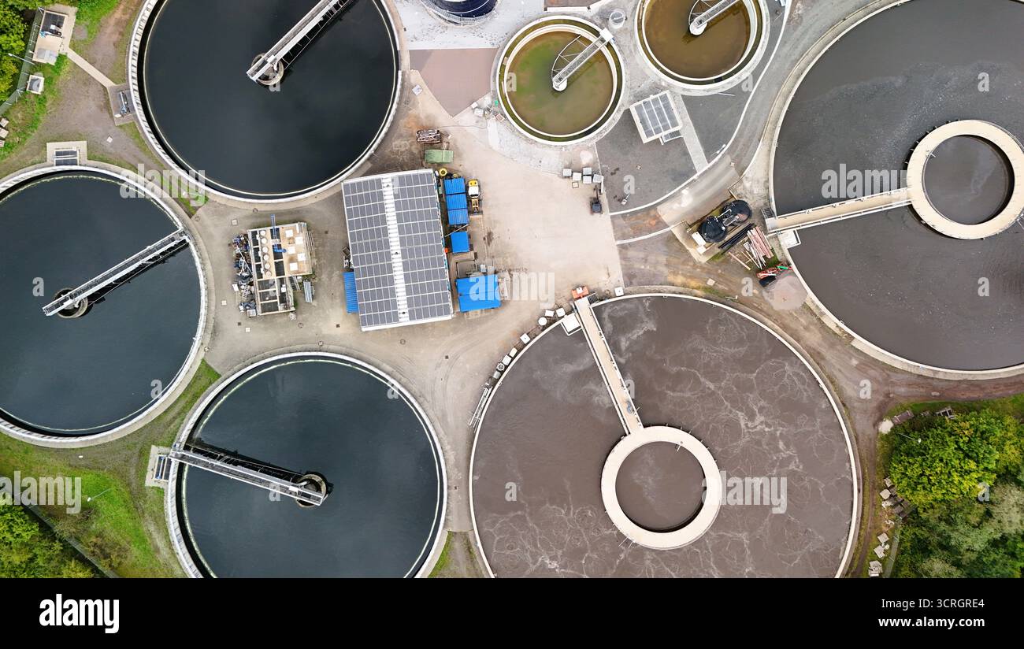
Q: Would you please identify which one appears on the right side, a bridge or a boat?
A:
bridge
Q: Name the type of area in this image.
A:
industrial area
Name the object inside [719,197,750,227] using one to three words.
storage tank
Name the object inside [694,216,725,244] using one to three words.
storage tank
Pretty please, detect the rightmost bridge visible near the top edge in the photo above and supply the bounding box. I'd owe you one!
[689,0,742,36]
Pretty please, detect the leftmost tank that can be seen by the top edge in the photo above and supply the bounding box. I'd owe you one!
[129,0,403,204]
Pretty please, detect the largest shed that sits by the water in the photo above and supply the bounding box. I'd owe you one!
[341,169,453,331]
